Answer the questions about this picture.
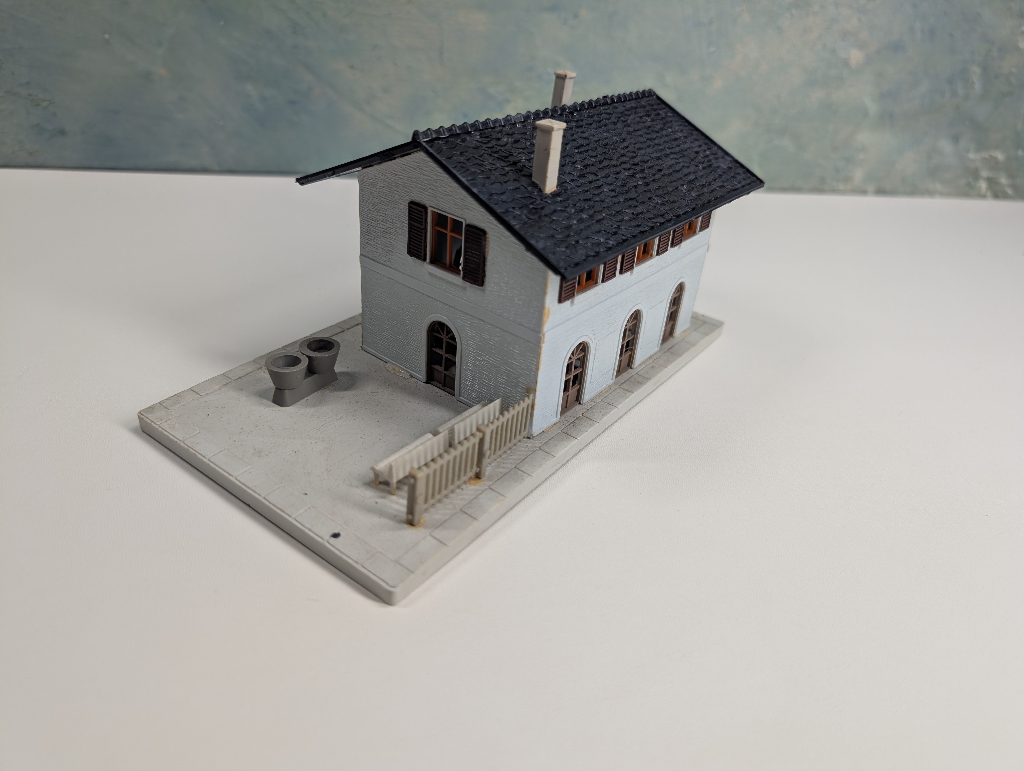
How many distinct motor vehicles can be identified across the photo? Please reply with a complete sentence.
I count no motor vehicles.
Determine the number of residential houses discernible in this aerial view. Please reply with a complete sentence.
I count 1 residential house.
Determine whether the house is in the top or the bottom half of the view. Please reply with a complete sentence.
The house is in the top half of the image.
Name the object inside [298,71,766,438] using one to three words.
house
